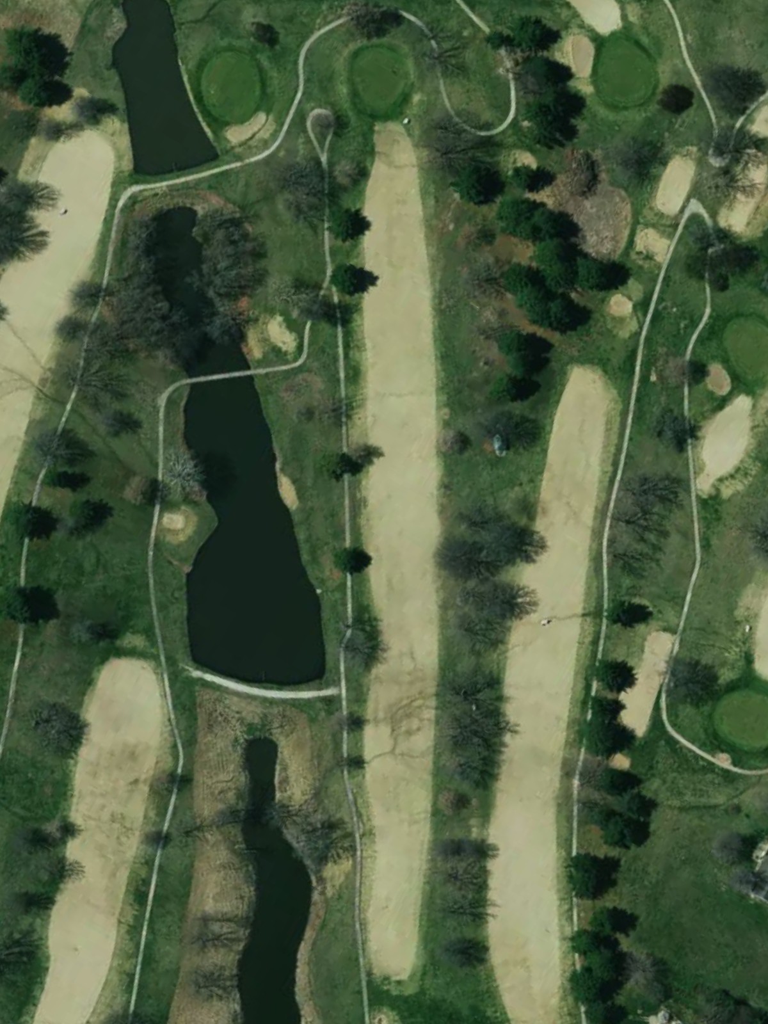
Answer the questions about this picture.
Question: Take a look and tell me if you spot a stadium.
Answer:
No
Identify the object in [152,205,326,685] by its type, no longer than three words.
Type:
pond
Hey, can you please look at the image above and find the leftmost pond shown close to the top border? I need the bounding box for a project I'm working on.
[111,0,219,177]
